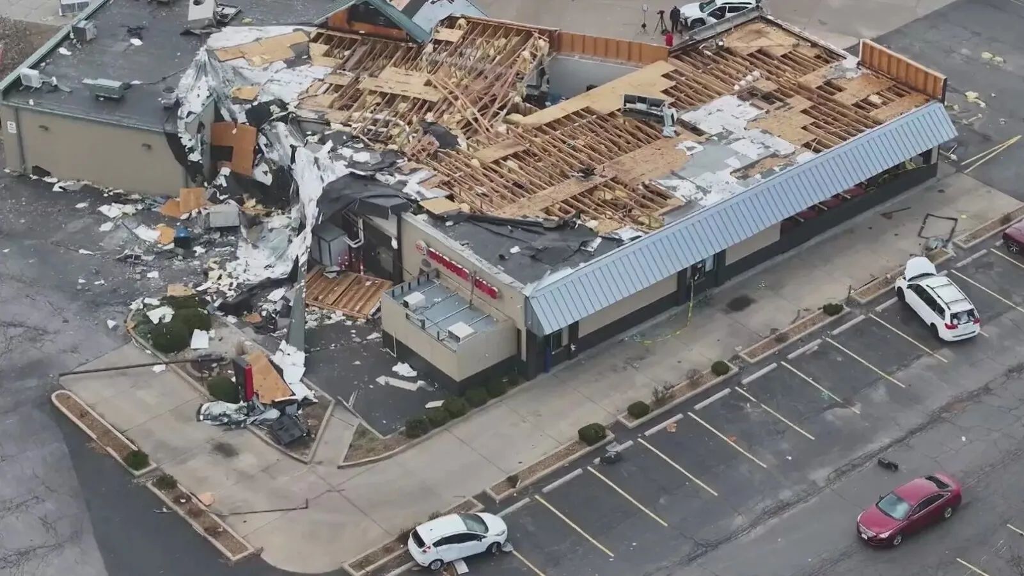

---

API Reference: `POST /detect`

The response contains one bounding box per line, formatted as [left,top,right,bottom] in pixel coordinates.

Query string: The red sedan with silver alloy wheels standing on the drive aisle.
[857,469,965,545]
